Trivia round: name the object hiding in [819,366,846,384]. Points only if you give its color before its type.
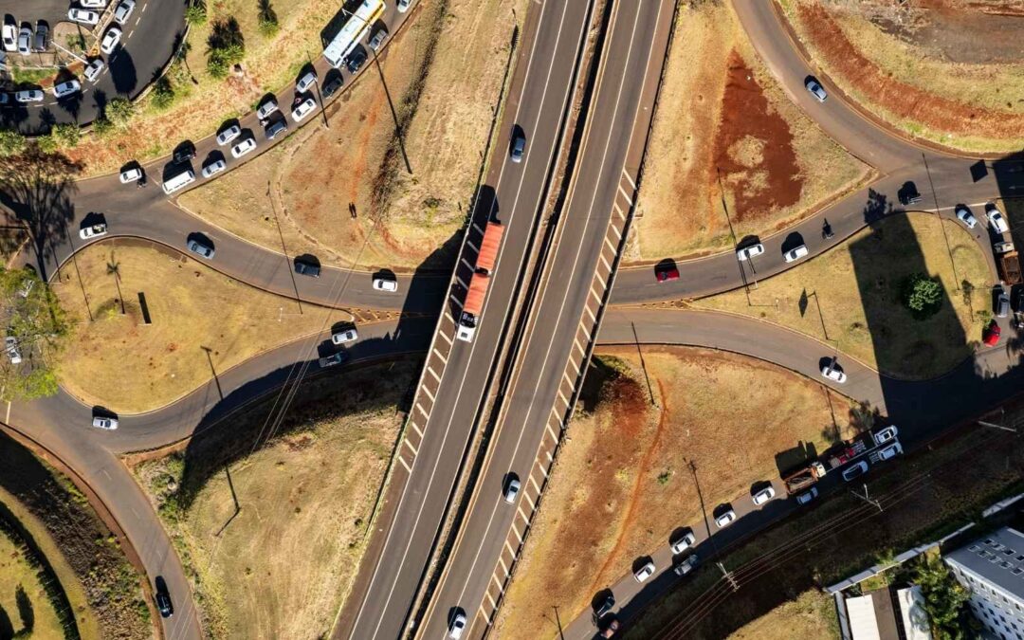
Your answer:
white car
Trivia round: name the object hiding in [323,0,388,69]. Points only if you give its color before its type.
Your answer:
white bus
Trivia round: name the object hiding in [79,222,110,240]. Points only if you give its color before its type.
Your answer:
white vehicle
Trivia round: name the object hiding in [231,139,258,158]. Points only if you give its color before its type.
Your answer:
white car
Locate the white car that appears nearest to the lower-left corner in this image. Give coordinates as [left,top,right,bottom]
[92,416,120,429]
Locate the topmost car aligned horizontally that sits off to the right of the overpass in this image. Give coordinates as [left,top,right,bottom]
[893,191,921,206]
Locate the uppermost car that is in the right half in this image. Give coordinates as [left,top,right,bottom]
[805,79,827,101]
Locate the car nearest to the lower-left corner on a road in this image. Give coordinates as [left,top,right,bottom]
[157,593,173,617]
